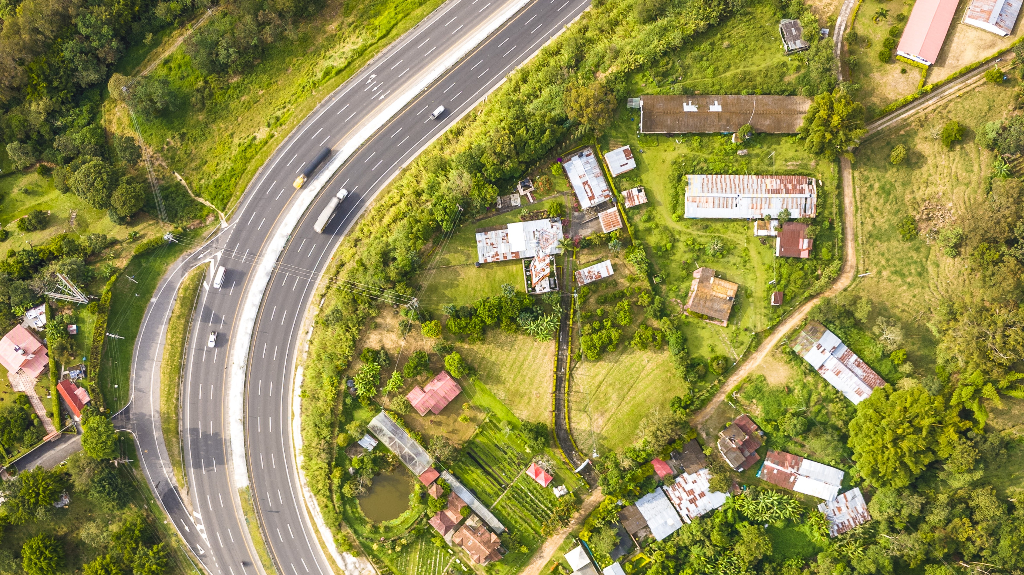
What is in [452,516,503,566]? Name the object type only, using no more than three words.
house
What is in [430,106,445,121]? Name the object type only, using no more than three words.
vehicle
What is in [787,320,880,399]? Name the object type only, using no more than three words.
shed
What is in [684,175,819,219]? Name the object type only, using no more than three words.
building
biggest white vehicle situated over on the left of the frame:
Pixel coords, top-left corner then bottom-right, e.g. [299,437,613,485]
[315,191,350,234]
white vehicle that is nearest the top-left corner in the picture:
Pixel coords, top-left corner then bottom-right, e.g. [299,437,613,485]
[214,266,227,288]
